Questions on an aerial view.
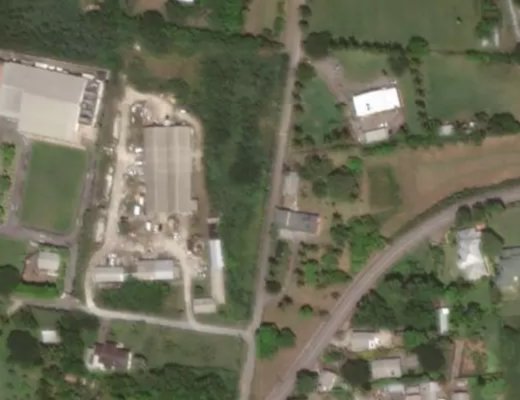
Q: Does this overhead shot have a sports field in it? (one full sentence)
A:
Yes, I can see a sports field in this picture.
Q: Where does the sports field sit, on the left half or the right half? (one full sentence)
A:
It is on the left.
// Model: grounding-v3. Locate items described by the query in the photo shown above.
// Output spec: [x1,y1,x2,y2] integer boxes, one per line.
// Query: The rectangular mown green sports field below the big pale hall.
[21,142,86,236]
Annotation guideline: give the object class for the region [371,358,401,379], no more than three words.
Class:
house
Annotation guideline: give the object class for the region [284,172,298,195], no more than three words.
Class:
shed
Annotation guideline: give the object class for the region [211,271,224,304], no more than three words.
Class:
shed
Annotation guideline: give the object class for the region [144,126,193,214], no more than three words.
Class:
building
